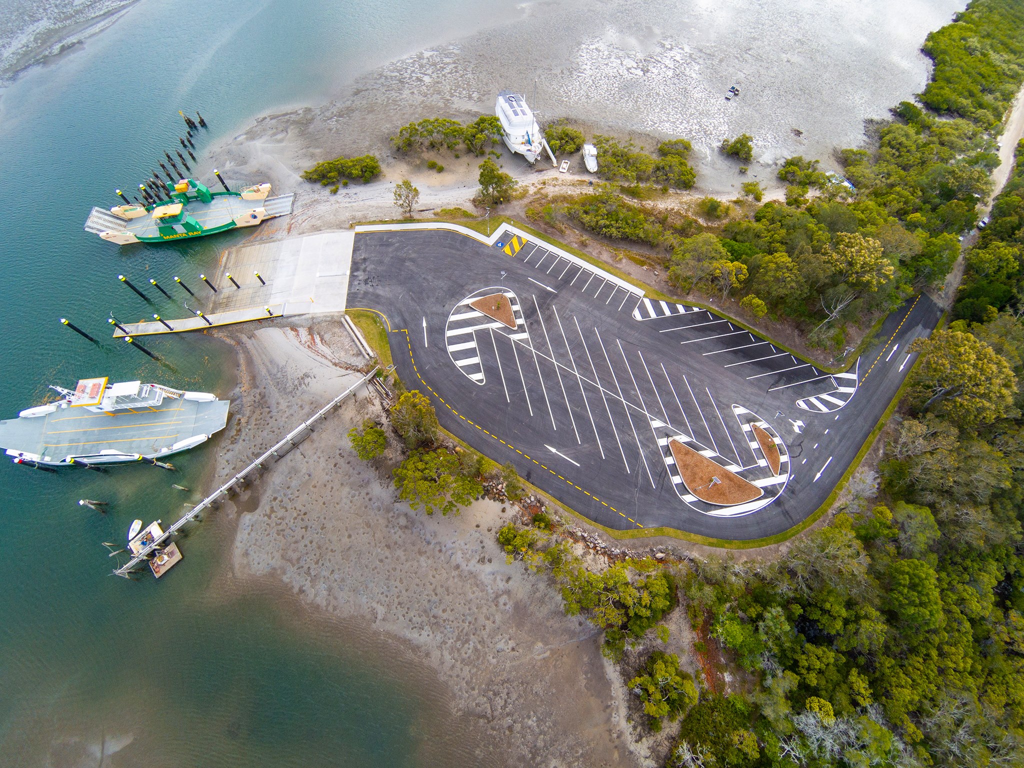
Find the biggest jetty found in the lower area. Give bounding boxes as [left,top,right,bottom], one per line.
[98,368,374,582]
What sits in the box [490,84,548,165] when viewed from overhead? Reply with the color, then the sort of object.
white boat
